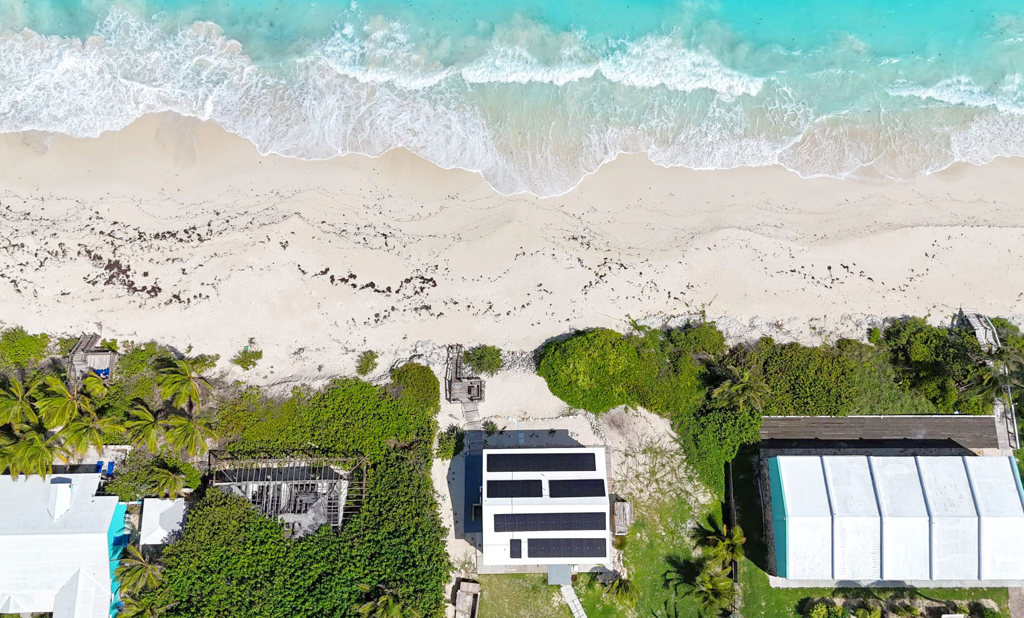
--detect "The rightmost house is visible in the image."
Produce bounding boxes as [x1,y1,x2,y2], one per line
[760,456,1024,580]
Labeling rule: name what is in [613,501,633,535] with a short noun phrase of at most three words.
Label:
shed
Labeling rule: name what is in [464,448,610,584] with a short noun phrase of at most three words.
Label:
house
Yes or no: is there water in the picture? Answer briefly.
Yes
